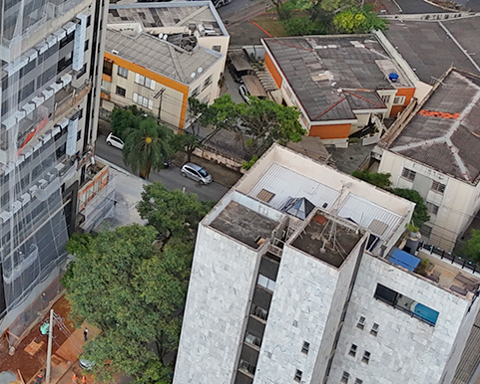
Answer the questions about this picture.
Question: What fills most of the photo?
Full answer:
The largest share of the image is taken up by buildings.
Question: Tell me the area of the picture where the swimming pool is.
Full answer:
The swimming pool sits in the bottom right section of the image.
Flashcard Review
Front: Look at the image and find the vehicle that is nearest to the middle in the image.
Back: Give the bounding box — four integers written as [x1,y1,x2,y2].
[180,163,214,187]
